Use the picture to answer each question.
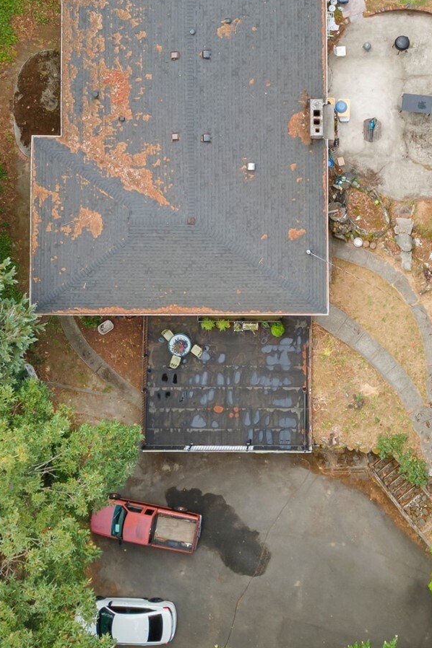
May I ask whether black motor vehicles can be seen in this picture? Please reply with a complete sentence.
No, the frame has no black motor vehicle in it.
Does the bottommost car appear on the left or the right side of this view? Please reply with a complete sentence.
The bottommost car is on the left side of the image.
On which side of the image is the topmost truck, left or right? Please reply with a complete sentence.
The topmost truck is on the left side of the image.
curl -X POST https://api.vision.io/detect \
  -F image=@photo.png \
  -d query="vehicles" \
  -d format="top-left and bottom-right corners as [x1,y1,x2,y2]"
[87,491,206,556]
[80,596,177,648]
